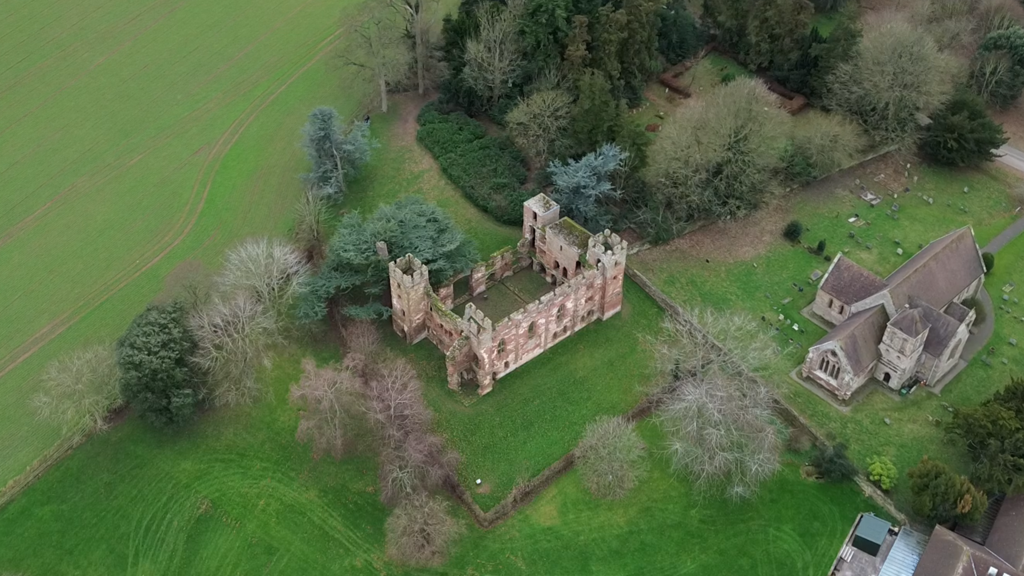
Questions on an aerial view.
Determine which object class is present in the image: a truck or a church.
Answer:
church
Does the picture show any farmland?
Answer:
Yes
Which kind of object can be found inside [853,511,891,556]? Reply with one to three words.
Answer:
shed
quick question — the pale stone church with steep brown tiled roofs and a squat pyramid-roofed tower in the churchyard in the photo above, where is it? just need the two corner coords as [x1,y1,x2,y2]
[798,225,989,403]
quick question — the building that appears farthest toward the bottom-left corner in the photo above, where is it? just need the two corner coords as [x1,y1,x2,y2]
[387,191,631,407]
